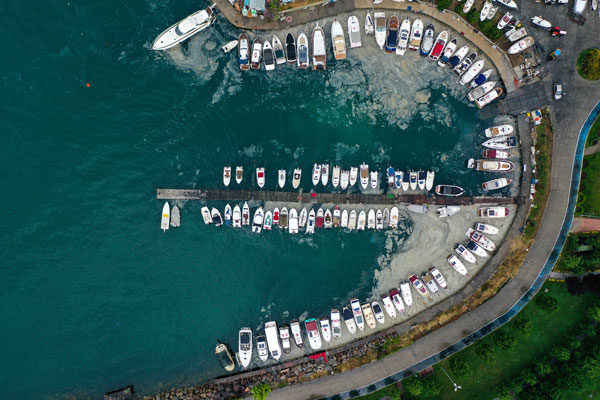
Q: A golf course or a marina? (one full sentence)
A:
What you see here is a marina.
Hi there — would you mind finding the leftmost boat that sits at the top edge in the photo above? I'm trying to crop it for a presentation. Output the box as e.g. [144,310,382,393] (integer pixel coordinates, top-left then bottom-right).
[151,2,222,48]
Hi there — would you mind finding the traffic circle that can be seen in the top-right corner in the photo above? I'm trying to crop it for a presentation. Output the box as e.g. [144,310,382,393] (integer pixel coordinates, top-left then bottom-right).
[575,46,600,81]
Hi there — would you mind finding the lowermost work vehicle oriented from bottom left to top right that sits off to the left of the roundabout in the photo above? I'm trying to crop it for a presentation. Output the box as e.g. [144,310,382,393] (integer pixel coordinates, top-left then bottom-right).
[544,49,564,64]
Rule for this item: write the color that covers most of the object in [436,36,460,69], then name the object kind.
white boat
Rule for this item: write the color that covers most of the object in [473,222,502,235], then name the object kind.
white boat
